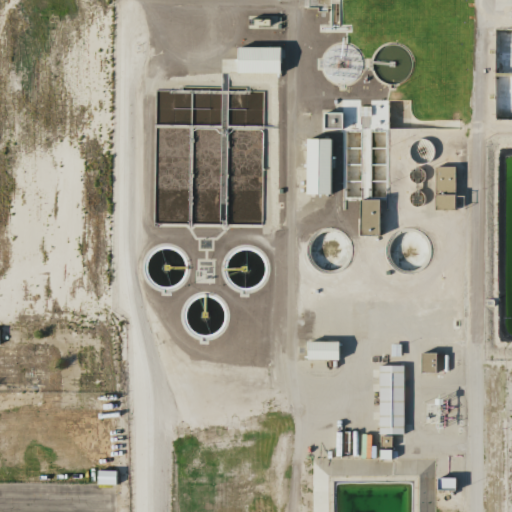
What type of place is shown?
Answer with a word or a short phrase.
industrial area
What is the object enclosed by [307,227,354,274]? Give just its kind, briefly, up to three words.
storage tank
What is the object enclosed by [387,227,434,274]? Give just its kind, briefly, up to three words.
storage tank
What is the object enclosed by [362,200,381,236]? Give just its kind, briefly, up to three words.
building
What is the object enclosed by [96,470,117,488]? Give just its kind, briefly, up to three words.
shed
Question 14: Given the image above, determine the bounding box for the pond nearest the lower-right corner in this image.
[314,460,436,512]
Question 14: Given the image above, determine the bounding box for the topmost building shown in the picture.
[237,46,282,72]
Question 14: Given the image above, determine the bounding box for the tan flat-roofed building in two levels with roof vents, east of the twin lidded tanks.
[436,166,457,210]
